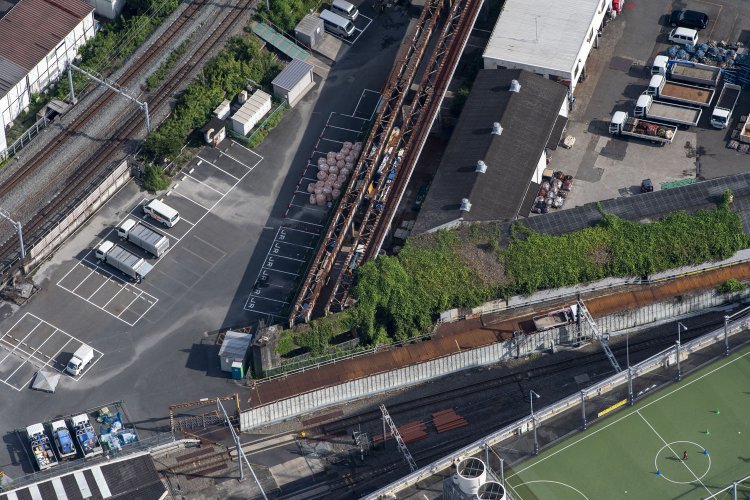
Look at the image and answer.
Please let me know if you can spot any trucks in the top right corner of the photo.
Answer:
Yes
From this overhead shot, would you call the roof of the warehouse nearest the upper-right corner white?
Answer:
Yes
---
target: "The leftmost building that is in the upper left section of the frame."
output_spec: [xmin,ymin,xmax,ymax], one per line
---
[0,0,97,131]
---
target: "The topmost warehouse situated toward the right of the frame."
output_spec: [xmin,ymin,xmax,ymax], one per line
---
[479,0,611,114]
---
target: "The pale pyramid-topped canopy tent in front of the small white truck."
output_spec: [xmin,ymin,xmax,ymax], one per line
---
[32,373,62,397]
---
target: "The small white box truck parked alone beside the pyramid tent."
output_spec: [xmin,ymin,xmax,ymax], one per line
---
[66,337,97,372]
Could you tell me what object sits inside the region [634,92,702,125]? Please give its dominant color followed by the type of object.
gray truck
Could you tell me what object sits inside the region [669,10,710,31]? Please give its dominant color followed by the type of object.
black car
